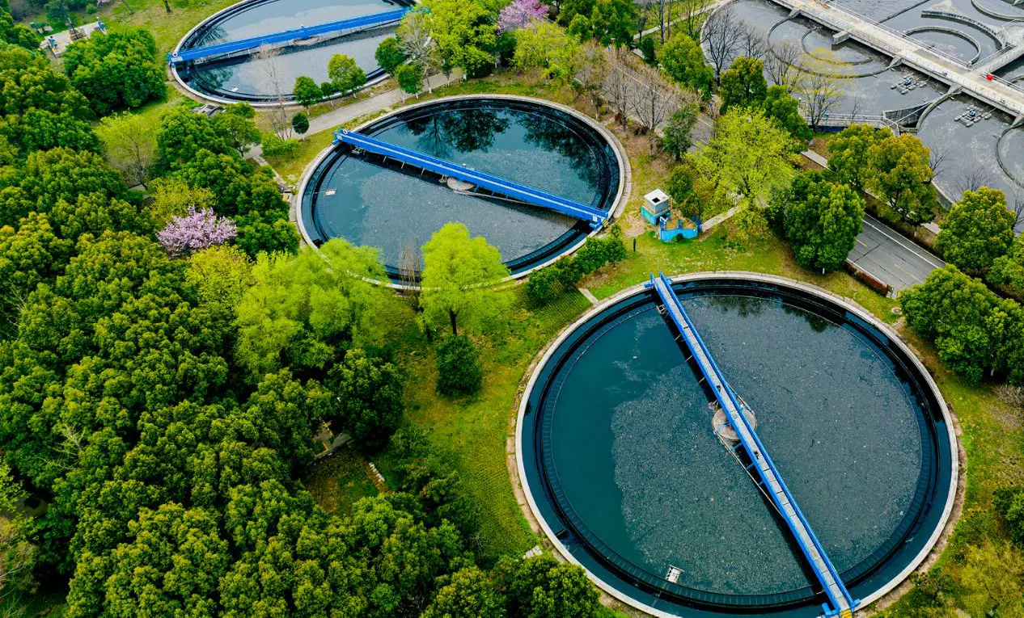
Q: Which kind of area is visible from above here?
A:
industrial area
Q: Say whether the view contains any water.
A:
Yes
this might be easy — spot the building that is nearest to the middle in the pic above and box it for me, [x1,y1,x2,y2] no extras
[640,189,670,226]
